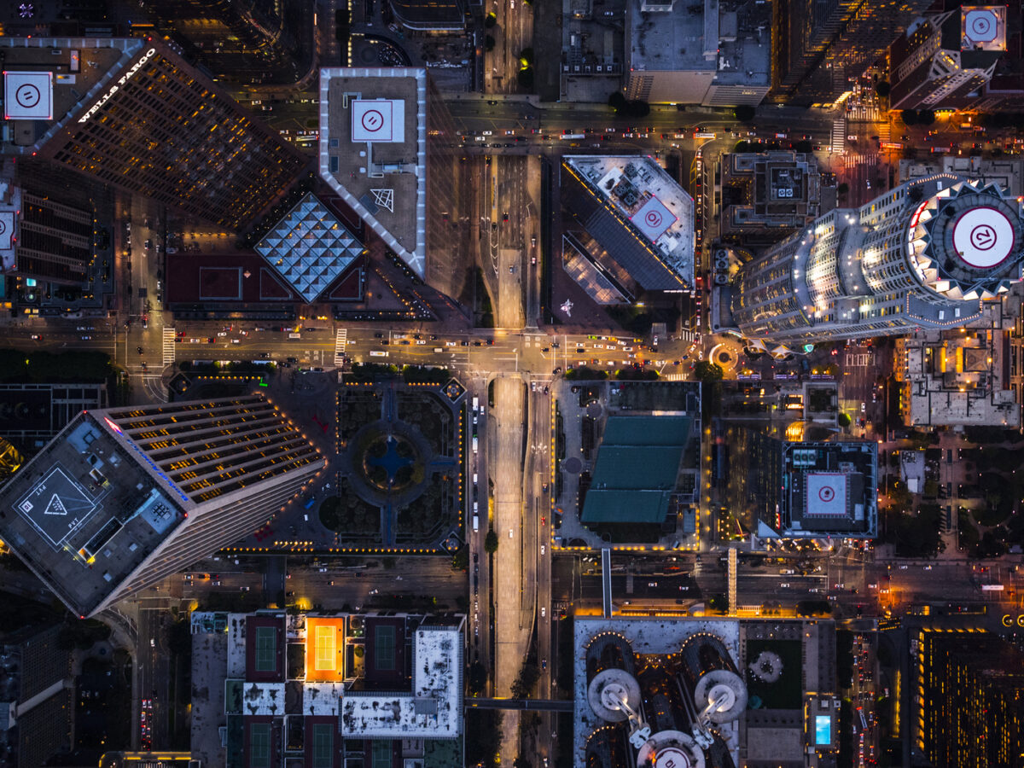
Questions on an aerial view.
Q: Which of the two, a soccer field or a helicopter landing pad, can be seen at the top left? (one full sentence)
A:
You can see a helicopter landing pad at the top left.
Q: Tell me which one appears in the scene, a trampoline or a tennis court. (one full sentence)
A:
I can see a tennis court in this picture.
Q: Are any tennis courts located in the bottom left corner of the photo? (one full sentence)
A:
Yes, a tennis court appears in the bottom left corner of the photo.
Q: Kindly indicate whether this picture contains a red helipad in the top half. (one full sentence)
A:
No, I can find no red helipad in the top half.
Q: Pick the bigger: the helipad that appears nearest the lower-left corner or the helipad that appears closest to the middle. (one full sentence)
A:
The helipad that appears nearest the lower-left corner takes up more space than the helipad that appears closest to the middle does.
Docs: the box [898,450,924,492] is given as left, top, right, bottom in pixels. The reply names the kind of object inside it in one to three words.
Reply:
building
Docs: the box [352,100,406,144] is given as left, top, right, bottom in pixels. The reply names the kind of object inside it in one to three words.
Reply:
helipad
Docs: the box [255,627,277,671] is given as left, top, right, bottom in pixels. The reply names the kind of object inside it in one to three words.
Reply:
tennis court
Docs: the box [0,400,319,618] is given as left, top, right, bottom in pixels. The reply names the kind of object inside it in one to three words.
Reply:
building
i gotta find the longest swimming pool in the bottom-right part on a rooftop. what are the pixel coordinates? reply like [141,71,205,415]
[815,715,830,745]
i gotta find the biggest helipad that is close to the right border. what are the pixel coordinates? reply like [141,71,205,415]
[951,208,1015,270]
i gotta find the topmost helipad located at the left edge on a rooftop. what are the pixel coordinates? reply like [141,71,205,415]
[4,72,60,122]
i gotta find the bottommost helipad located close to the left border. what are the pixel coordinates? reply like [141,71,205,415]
[13,461,104,552]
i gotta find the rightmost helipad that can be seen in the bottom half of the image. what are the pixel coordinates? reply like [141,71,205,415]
[806,473,847,515]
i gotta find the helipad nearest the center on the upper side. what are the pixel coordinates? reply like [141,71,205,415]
[629,196,677,243]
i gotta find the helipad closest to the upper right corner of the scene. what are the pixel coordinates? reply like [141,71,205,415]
[964,10,997,43]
